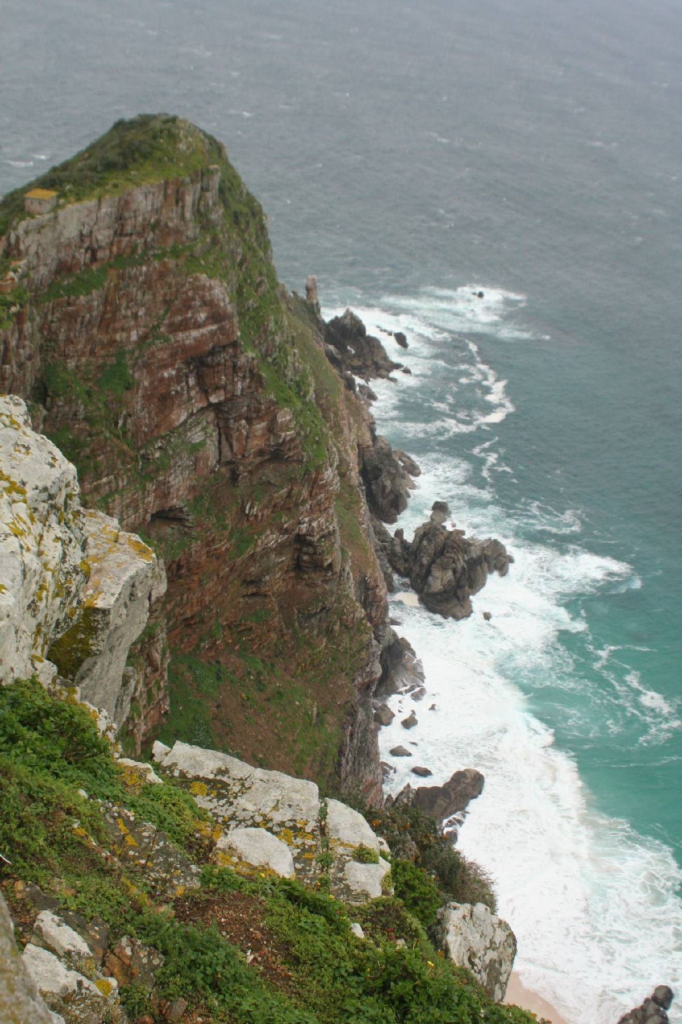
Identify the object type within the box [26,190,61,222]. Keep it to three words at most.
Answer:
shed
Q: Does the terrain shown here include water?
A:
Yes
